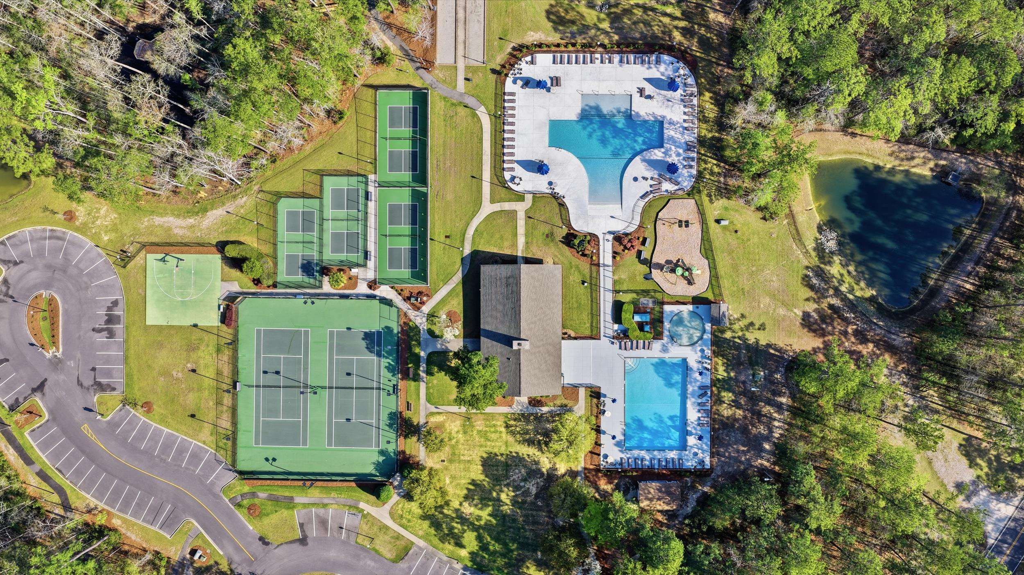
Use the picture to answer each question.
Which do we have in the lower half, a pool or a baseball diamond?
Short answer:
pool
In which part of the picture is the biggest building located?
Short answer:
center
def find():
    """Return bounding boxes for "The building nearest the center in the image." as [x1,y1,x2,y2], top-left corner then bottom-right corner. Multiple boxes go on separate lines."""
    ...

[480,264,562,398]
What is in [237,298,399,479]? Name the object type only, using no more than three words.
tennis court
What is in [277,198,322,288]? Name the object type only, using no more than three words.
sports court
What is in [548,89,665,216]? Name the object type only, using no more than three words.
swimming pool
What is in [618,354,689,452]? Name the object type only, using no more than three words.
swimming pool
